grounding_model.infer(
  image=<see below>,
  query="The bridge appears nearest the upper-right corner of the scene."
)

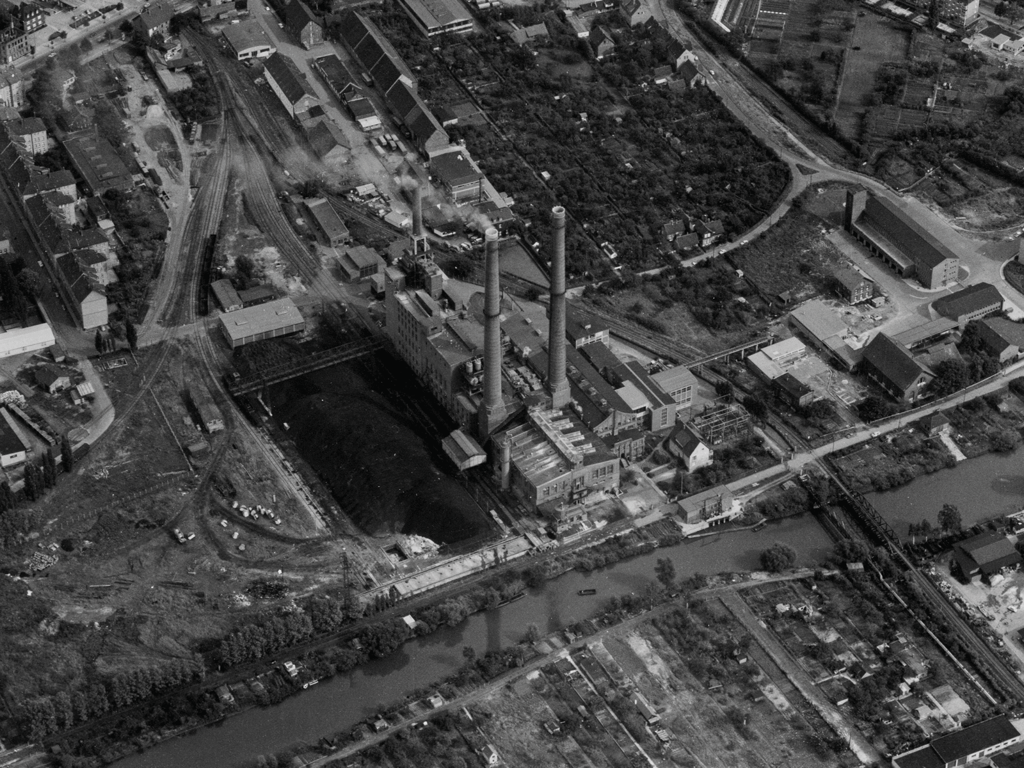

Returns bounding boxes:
[684,336,773,373]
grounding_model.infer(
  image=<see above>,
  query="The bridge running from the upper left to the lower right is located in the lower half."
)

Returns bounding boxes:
[825,474,922,577]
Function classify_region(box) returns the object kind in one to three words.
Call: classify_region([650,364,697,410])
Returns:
building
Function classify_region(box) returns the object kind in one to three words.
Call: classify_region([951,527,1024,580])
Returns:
barn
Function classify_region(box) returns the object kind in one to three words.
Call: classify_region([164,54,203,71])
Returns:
shed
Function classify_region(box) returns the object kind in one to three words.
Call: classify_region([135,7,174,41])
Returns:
house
